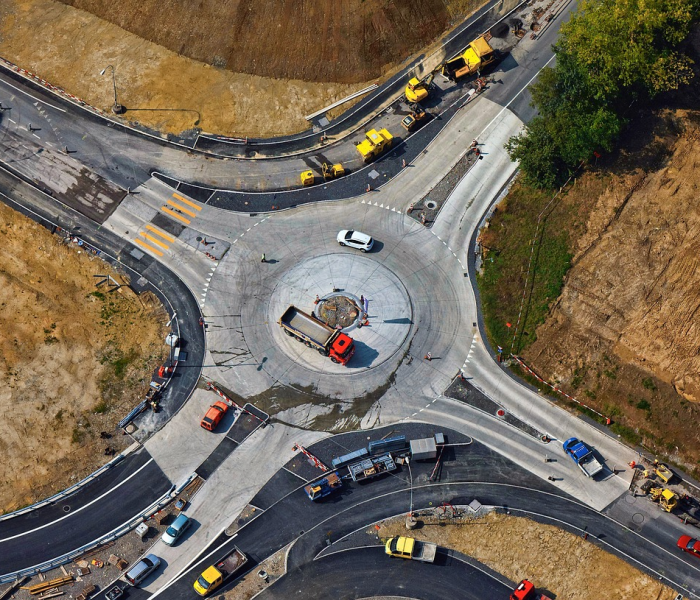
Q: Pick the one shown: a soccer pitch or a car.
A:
car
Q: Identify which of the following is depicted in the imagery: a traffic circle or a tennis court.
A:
traffic circle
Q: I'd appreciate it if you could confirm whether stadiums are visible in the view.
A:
No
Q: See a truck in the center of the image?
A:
Yes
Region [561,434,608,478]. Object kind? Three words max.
truck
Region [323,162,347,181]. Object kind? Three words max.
work vehicle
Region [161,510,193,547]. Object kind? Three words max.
car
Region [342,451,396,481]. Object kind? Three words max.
trailer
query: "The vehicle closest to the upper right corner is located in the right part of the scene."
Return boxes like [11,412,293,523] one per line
[409,64,446,103]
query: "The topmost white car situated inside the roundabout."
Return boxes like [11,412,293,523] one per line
[336,230,375,254]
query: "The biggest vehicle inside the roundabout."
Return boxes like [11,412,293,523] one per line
[277,301,360,366]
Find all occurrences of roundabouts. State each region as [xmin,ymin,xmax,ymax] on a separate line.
[205,202,477,432]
